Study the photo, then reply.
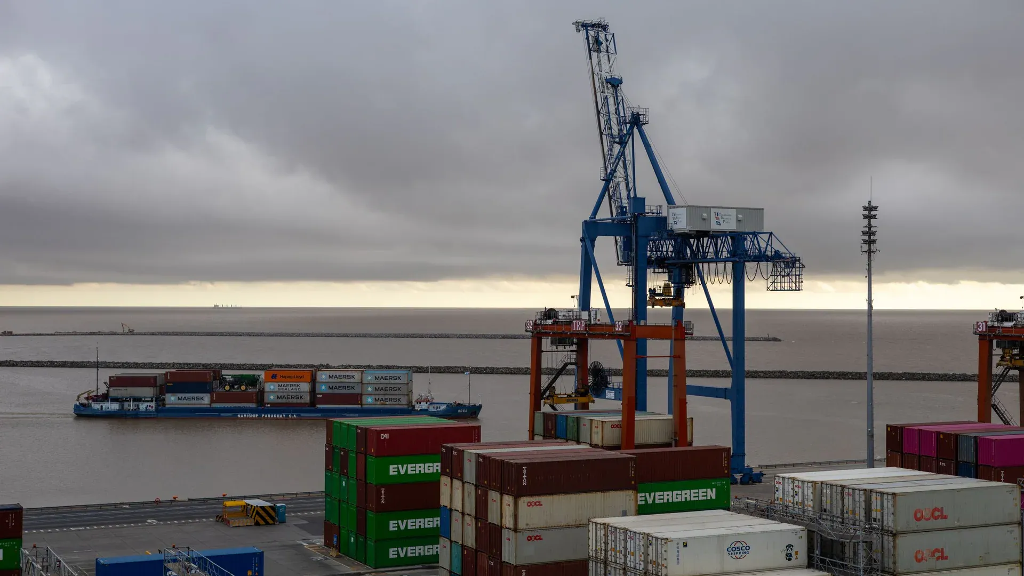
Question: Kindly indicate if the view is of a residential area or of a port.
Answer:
port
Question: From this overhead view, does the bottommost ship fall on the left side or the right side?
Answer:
left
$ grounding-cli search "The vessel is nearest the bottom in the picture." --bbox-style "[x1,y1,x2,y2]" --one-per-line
[75,350,482,419]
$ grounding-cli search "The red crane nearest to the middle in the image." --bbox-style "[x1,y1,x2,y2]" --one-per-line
[518,296,702,450]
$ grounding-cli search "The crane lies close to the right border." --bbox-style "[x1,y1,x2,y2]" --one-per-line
[964,303,1024,428]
